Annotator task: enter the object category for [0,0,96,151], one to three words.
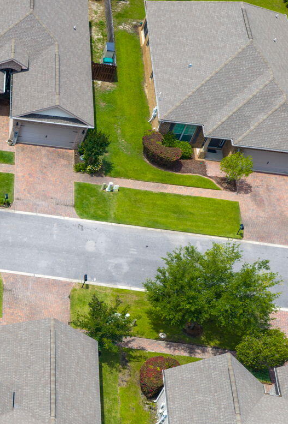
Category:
house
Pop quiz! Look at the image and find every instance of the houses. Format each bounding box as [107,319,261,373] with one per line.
[0,318,104,424]
[0,0,96,151]
[135,0,288,179]
[142,361,288,424]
